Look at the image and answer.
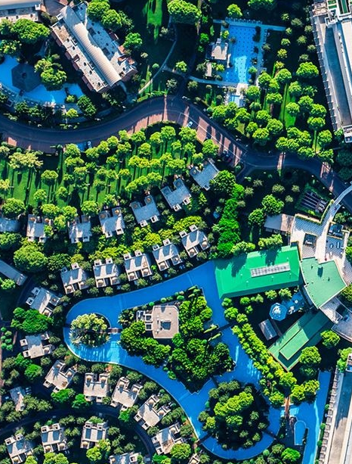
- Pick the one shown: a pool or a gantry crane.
pool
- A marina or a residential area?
residential area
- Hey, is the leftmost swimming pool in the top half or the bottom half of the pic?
top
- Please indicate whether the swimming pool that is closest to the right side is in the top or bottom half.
bottom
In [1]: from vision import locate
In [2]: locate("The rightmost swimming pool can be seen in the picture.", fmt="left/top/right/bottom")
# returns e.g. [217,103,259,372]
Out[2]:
[302,369,333,464]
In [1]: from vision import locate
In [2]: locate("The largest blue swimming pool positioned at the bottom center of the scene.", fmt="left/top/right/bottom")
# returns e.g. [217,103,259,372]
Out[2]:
[63,263,281,462]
